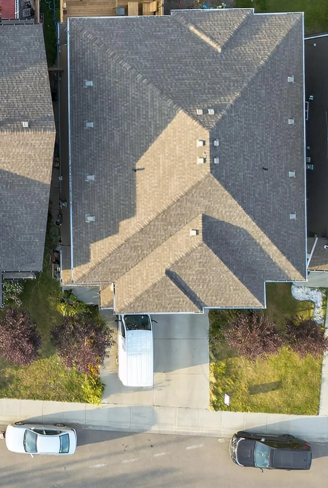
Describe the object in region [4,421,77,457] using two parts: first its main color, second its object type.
white car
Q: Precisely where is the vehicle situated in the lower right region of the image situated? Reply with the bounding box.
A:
[227,431,311,471]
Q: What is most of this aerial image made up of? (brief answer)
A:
buildings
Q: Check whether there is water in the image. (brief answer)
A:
No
